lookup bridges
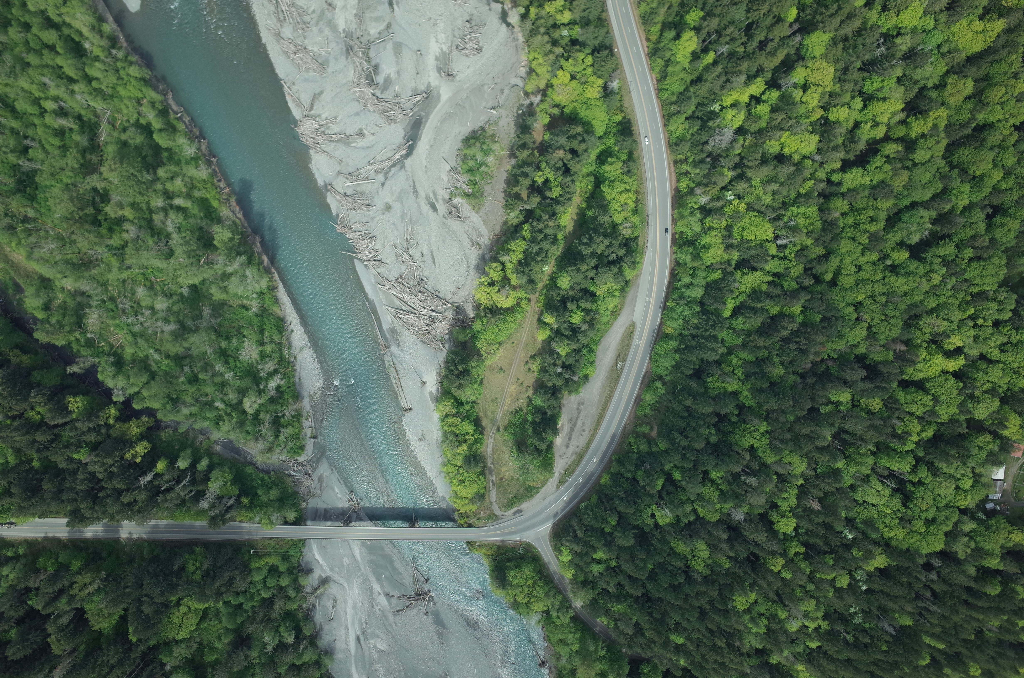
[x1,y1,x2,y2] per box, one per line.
[302,520,473,541]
